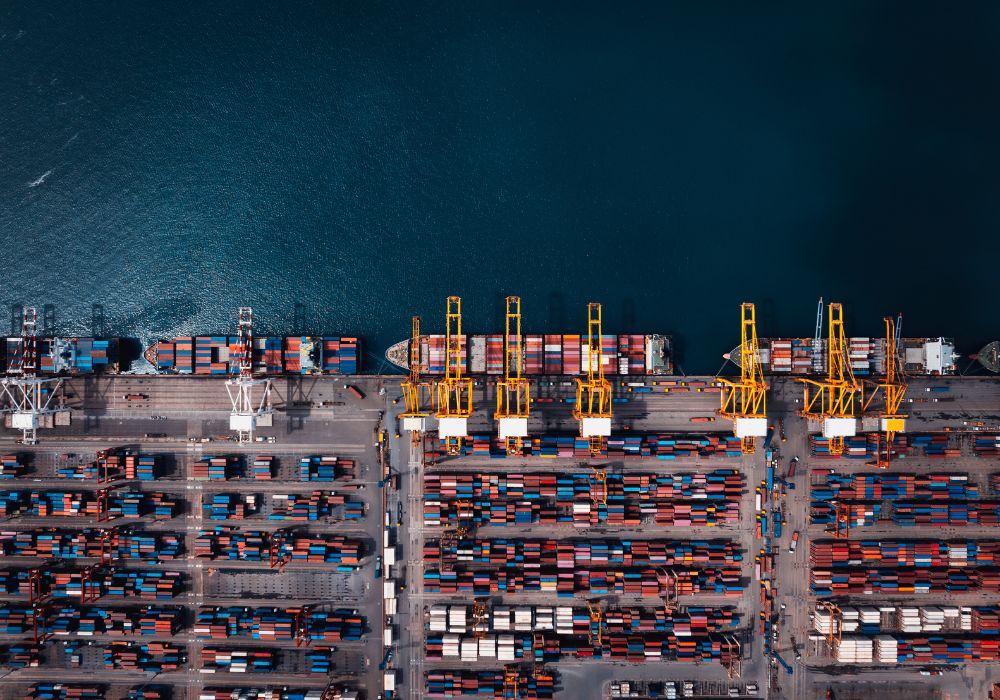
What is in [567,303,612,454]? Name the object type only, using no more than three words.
container crane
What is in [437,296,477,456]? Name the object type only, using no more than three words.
container crane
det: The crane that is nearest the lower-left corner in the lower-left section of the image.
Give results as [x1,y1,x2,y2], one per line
[34,597,65,641]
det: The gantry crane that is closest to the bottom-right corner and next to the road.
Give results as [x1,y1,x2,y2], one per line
[814,594,843,643]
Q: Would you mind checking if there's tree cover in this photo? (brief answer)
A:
No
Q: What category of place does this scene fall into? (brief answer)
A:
port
